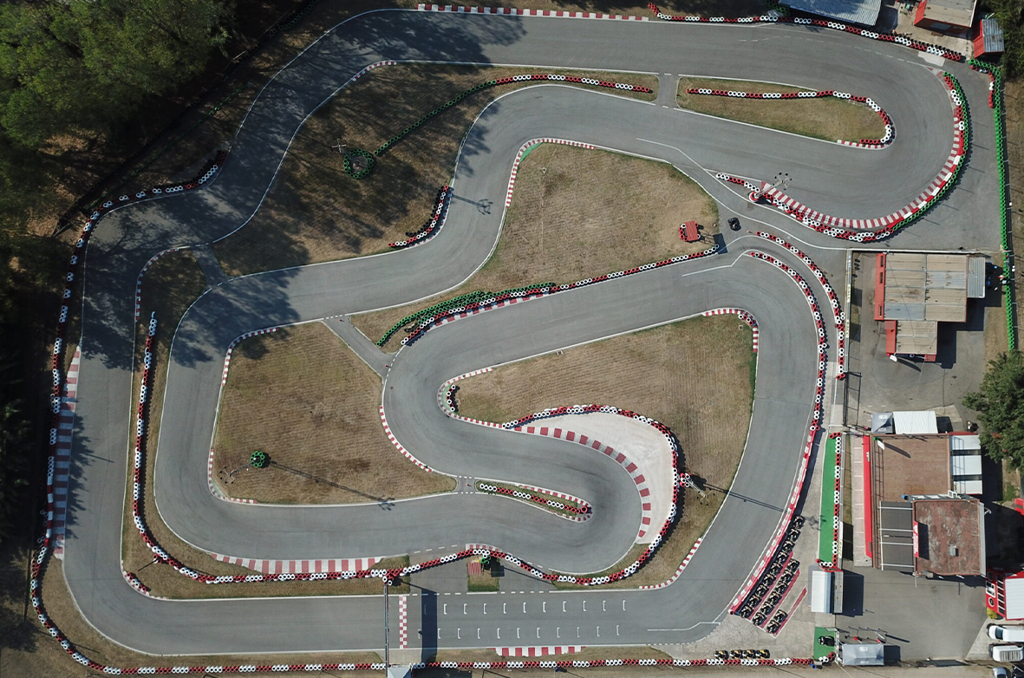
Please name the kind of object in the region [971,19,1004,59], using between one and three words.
building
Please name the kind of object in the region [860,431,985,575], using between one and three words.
building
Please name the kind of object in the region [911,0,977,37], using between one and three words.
shed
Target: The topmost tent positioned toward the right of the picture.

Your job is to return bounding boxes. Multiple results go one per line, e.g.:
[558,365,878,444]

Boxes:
[864,411,893,433]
